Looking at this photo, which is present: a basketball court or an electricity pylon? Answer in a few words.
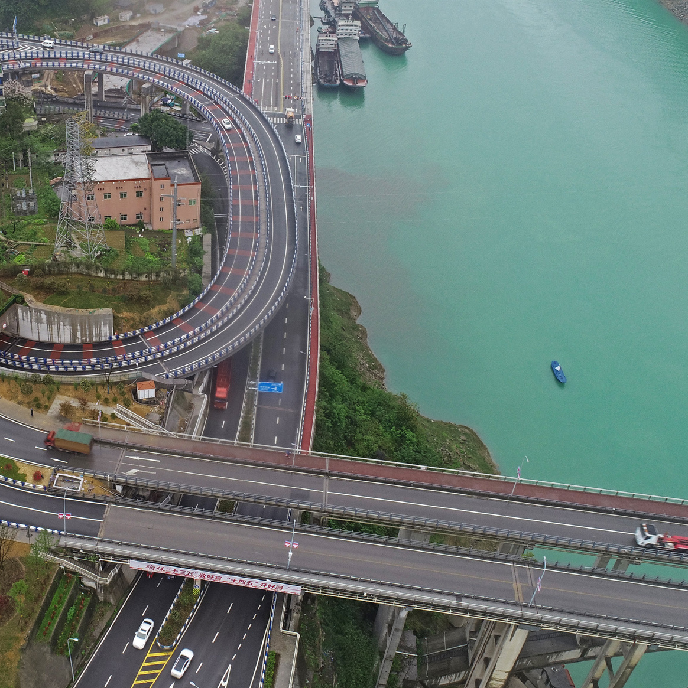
electricity pylon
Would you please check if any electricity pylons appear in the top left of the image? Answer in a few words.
Yes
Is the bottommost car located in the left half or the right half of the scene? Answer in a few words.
left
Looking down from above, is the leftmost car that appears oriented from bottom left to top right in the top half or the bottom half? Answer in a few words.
bottom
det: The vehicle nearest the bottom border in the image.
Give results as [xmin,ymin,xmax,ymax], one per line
[167,646,199,679]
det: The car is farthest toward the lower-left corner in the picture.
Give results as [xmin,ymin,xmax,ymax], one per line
[130,614,157,648]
